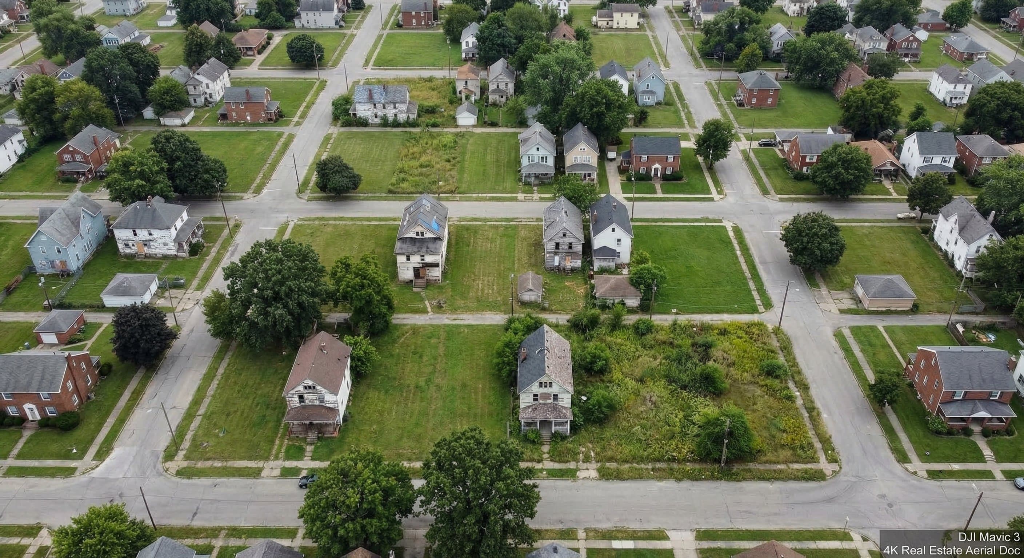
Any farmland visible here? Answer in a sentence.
No, the scene doesn't show any farmland.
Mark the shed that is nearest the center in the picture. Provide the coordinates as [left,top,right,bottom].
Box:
[518,270,543,301]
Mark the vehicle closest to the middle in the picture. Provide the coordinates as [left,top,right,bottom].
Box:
[605,140,617,158]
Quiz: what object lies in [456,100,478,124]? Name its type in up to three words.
building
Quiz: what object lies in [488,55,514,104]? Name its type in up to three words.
house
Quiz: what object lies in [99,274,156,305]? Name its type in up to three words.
building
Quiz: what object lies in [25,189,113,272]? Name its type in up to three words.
house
